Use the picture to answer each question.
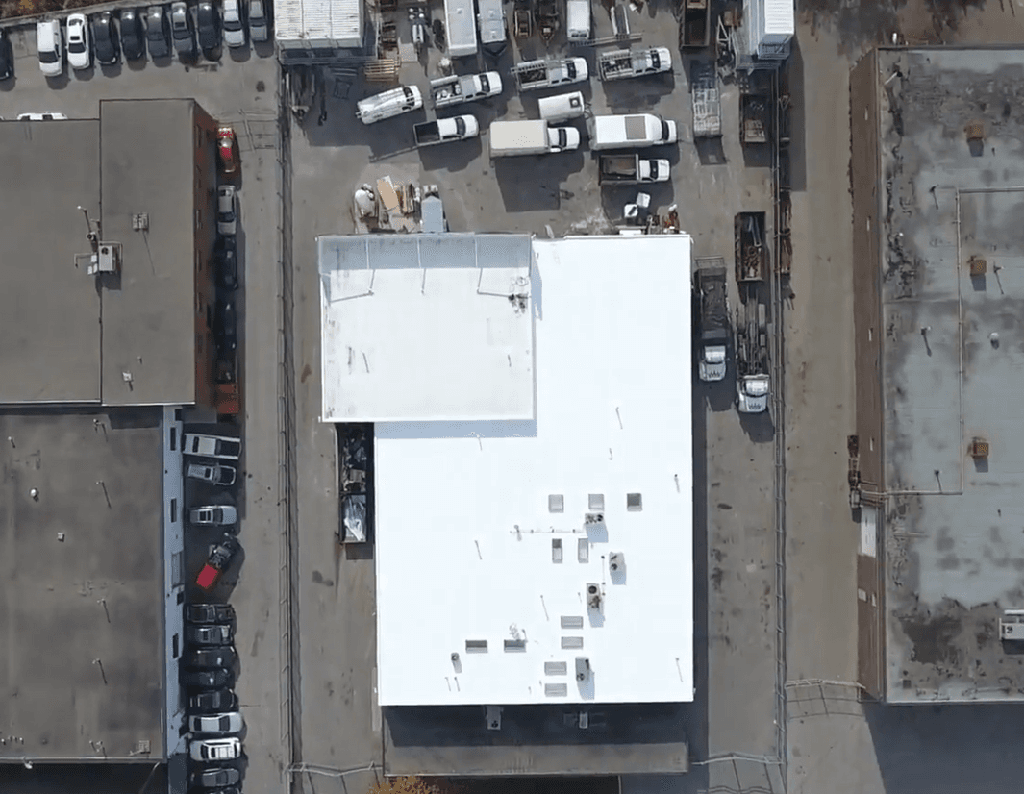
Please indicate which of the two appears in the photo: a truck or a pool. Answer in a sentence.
I can see a truck in this picture.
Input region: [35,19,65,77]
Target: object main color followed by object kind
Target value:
white van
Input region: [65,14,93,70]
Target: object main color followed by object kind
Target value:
white car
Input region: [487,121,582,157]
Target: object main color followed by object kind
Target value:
white truck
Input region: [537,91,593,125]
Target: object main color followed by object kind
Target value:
white trailer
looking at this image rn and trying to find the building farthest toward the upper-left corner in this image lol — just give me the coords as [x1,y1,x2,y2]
[0,99,218,405]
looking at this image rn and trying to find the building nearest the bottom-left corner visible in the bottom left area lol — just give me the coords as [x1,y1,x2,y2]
[0,407,185,762]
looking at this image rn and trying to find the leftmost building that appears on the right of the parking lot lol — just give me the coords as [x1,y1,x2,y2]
[313,231,698,776]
